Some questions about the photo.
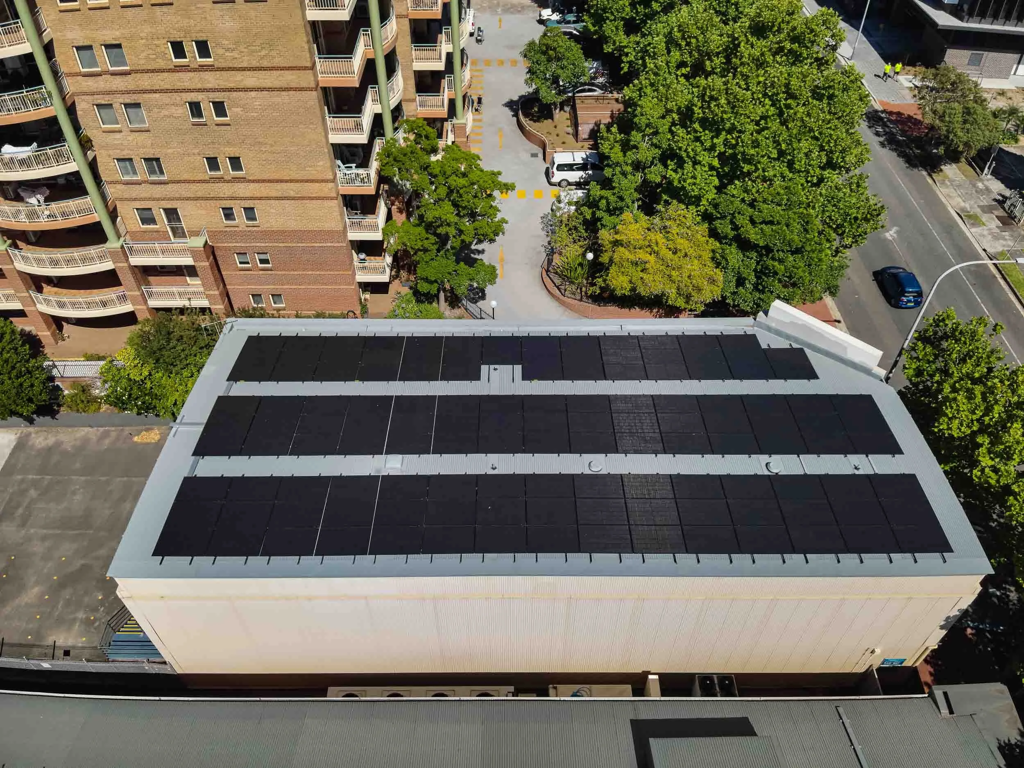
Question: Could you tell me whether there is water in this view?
No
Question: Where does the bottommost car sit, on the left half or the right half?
right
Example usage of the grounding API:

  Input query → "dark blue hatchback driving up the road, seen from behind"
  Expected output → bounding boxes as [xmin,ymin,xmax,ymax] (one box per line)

[873,263,929,309]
